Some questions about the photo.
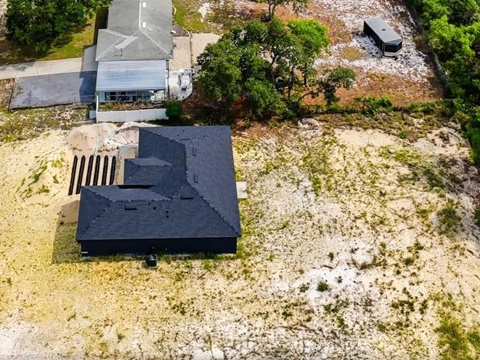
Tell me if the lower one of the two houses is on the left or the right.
left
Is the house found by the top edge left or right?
left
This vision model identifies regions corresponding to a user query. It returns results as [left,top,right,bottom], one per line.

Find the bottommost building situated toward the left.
[74,126,242,253]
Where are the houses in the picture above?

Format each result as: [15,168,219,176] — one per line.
[93,0,172,106]
[74,126,242,253]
